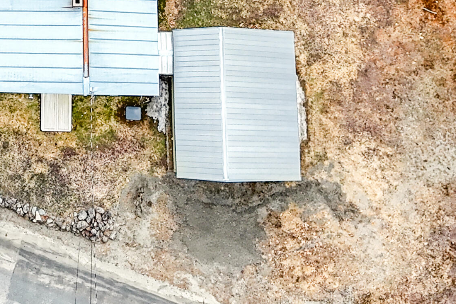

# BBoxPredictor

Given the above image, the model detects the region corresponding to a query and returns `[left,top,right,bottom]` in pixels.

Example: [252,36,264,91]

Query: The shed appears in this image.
[164,26,302,183]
